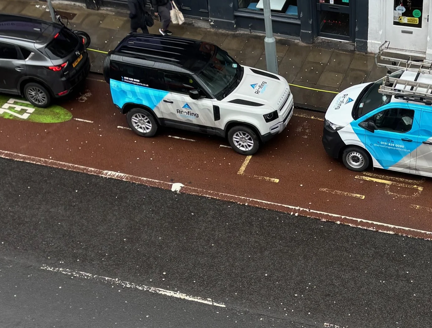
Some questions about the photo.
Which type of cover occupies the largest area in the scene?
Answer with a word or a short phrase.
paved ground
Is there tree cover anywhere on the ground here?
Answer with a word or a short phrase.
No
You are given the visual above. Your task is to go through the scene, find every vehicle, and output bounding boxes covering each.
[102,25,298,154]
[0,11,96,108]
[326,58,432,172]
